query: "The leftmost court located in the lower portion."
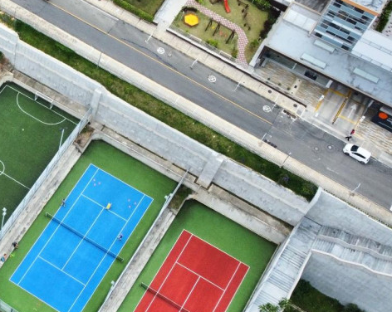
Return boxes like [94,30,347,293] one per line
[0,143,179,312]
